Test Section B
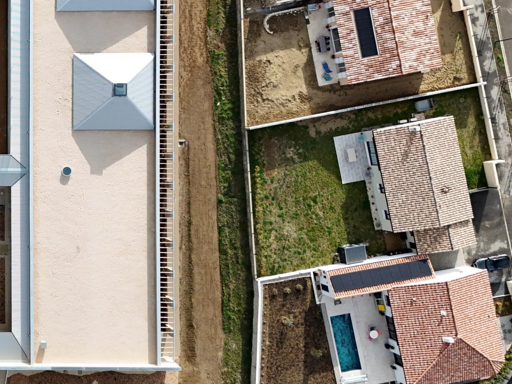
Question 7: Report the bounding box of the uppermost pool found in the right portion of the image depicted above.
[326,310,366,377]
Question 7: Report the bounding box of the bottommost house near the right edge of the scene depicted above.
[319,254,506,384]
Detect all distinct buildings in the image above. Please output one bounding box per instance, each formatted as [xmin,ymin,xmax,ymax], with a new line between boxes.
[364,116,477,254]
[324,0,442,85]
[0,0,181,370]
[319,254,506,384]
